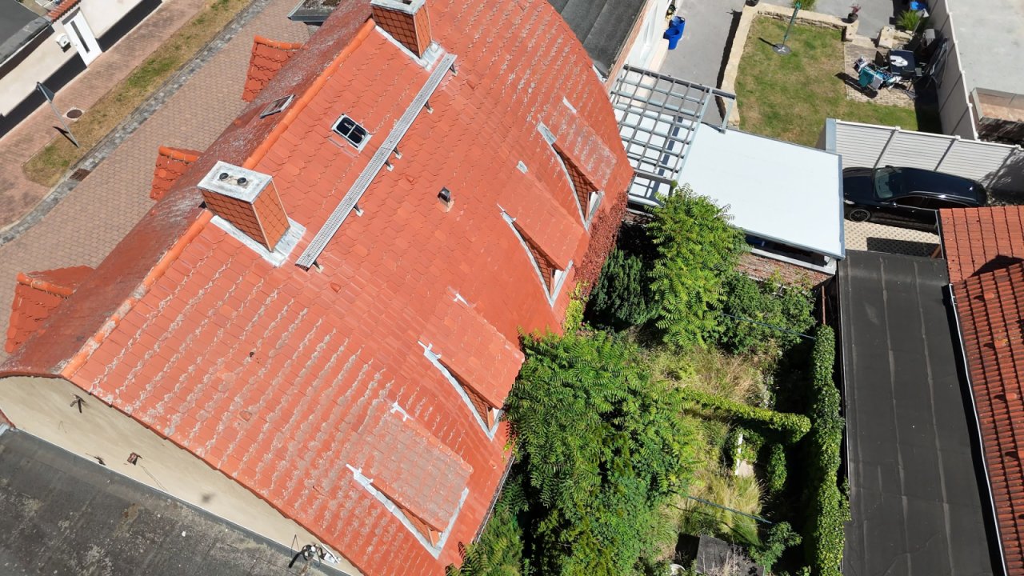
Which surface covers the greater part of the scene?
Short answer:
buildings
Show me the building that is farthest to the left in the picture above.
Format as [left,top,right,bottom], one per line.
[0,6,55,71]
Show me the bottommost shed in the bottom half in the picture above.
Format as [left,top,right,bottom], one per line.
[688,532,756,576]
